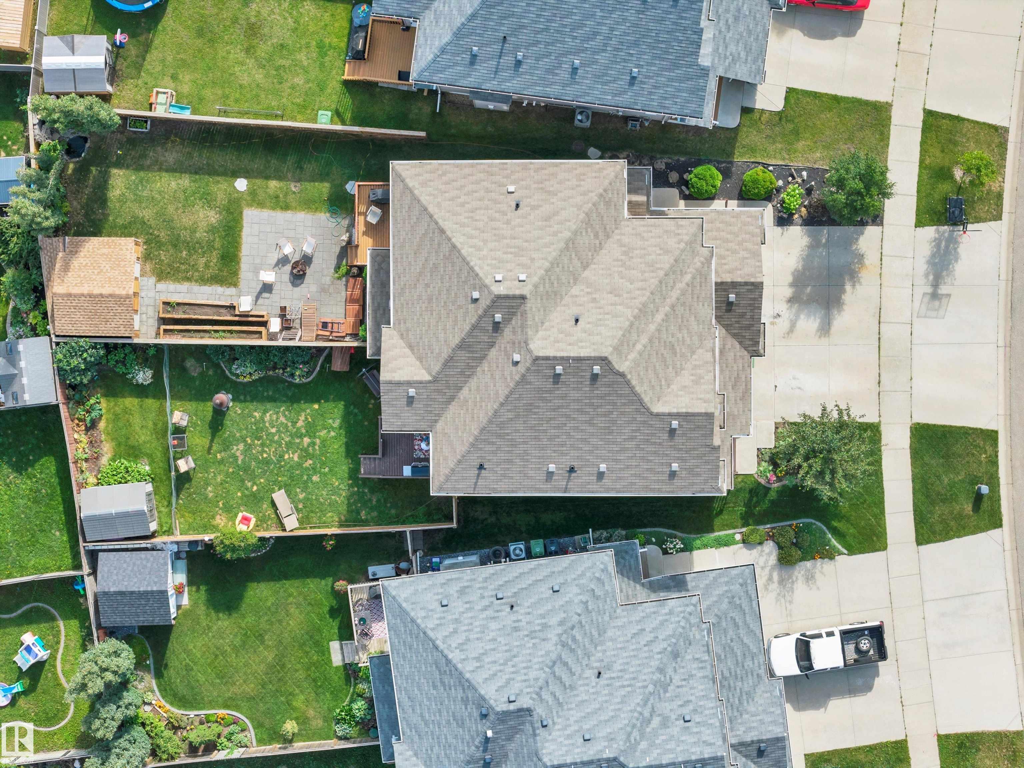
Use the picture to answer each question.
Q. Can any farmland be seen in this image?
No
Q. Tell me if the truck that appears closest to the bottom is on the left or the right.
right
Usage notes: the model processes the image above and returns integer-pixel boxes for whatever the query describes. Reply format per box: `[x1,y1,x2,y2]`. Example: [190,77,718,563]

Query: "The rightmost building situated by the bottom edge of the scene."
[367,531,797,768]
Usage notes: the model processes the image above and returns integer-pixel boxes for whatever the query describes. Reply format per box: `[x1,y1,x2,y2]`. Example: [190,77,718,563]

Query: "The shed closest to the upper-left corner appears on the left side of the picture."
[42,35,118,95]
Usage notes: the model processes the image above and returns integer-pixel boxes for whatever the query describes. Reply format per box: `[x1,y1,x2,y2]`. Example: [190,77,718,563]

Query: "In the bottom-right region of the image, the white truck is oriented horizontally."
[765,619,892,678]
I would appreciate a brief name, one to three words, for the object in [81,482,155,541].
shed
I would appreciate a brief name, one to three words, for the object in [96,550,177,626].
shed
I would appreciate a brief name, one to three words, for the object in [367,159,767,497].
house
